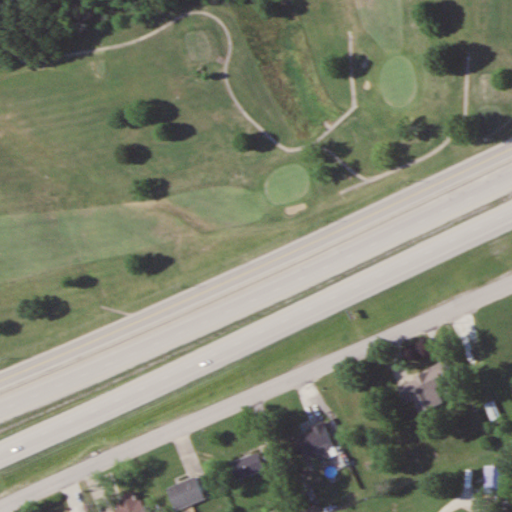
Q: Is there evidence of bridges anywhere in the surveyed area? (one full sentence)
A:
No, I find no bridge anywhere in the image.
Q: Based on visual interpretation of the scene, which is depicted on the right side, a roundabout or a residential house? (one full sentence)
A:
The one visible on the right side is a residential house.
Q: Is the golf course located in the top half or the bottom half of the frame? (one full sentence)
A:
You can find the golf course in the top half.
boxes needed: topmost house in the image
[416,366,446,410]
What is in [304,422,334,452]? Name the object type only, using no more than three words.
house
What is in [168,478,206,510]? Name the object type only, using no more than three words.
house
